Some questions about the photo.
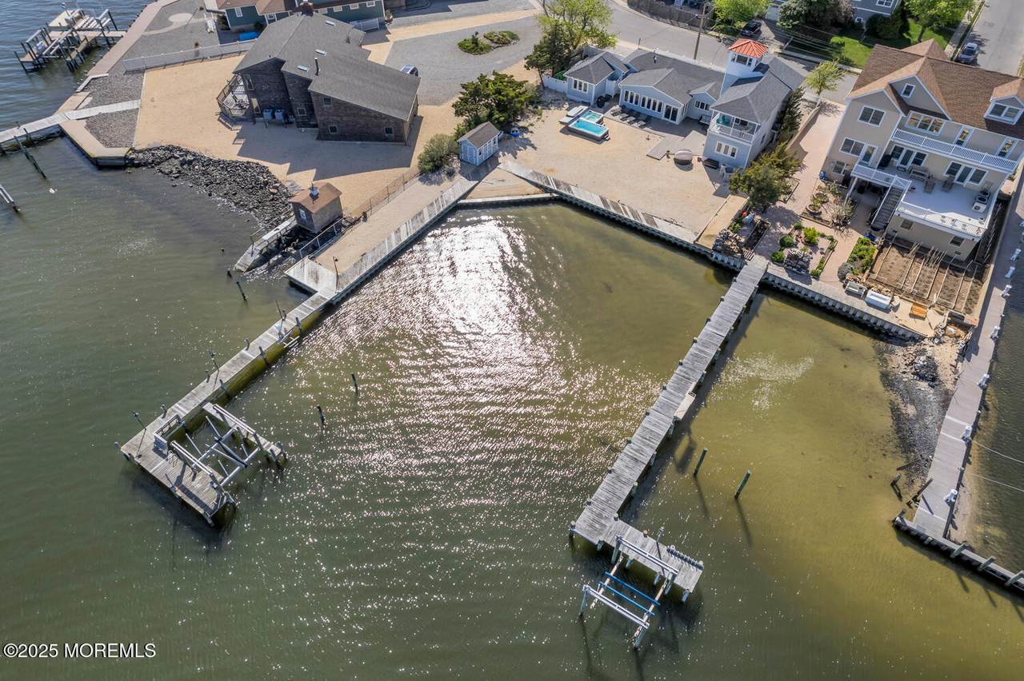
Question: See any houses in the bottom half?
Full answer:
No, there is no house in the bottom half.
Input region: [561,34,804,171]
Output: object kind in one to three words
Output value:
house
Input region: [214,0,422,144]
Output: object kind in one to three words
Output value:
house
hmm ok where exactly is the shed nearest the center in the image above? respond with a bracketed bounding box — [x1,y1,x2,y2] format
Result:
[454,123,503,167]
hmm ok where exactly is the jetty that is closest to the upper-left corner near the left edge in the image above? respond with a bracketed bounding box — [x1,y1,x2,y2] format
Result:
[14,8,124,73]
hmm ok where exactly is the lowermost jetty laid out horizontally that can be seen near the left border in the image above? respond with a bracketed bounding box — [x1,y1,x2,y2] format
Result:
[0,100,140,150]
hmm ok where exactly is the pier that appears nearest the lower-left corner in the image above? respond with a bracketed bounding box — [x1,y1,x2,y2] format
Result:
[112,292,338,534]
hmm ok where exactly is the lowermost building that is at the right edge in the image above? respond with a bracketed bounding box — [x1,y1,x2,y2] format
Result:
[823,39,1024,257]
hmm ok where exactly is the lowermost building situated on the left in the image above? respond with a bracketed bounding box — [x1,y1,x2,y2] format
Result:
[290,184,341,235]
